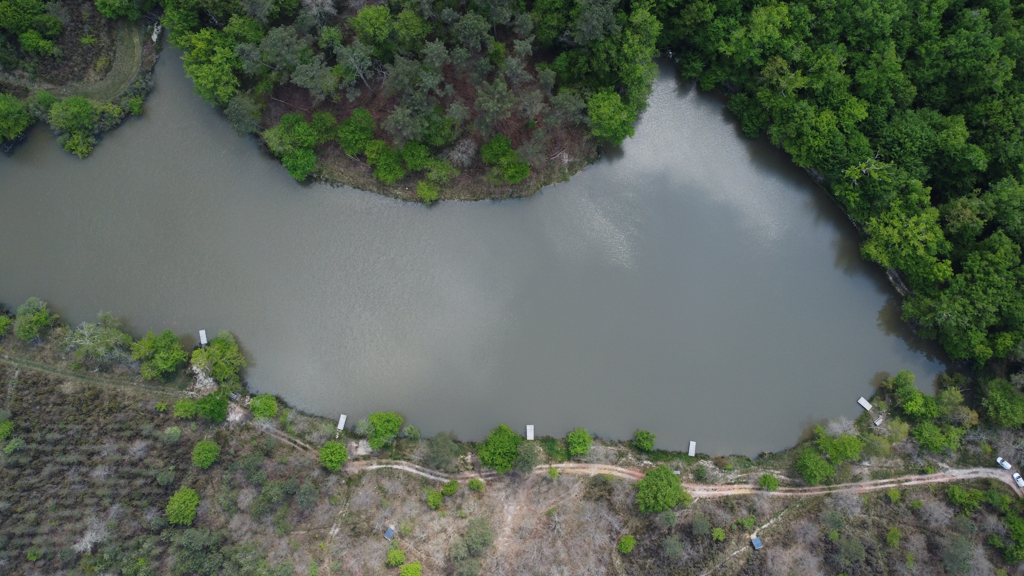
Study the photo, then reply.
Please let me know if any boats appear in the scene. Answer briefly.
No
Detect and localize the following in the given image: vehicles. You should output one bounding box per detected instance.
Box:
[998,457,1015,471]
[1013,473,1024,489]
